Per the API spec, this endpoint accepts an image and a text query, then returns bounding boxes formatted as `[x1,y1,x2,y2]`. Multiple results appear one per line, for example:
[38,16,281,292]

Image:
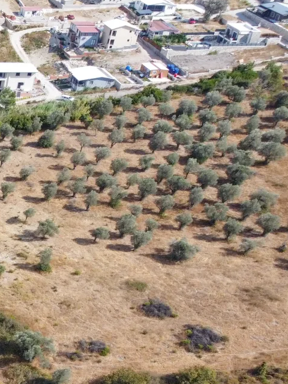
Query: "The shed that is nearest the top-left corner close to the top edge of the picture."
[15,3,54,17]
